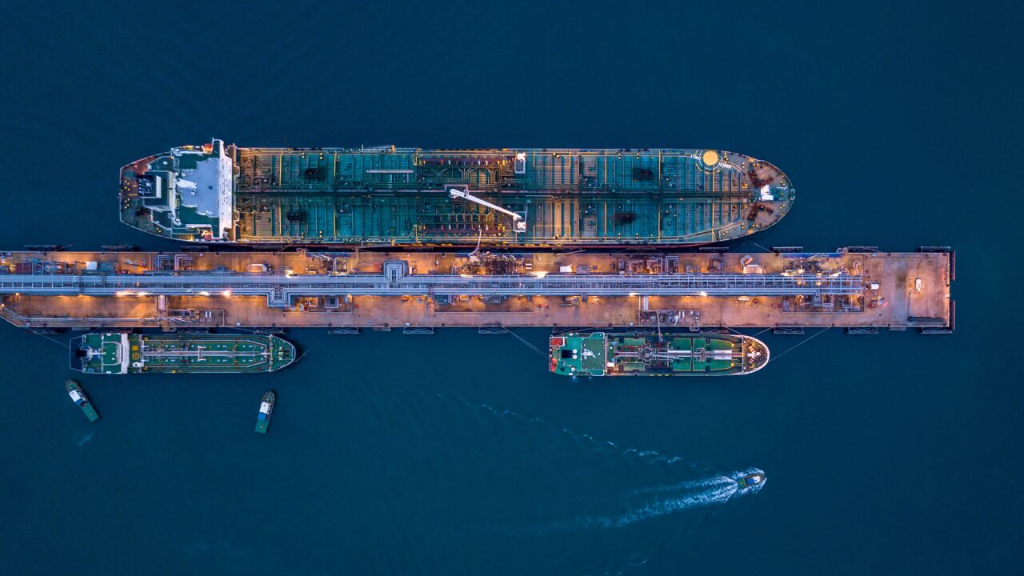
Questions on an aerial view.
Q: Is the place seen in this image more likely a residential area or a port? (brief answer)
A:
port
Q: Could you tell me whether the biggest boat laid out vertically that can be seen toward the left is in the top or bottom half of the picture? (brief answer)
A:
bottom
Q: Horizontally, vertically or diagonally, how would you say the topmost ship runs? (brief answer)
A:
horizontally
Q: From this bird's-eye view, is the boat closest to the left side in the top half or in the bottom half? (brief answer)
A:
bottom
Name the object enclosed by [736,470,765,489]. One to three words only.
boat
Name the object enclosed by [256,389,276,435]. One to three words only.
boat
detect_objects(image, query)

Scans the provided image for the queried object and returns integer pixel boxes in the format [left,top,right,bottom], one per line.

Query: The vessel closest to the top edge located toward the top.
[120,140,795,244]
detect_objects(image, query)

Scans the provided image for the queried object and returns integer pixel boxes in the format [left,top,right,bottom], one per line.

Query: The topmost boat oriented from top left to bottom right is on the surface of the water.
[64,379,101,424]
